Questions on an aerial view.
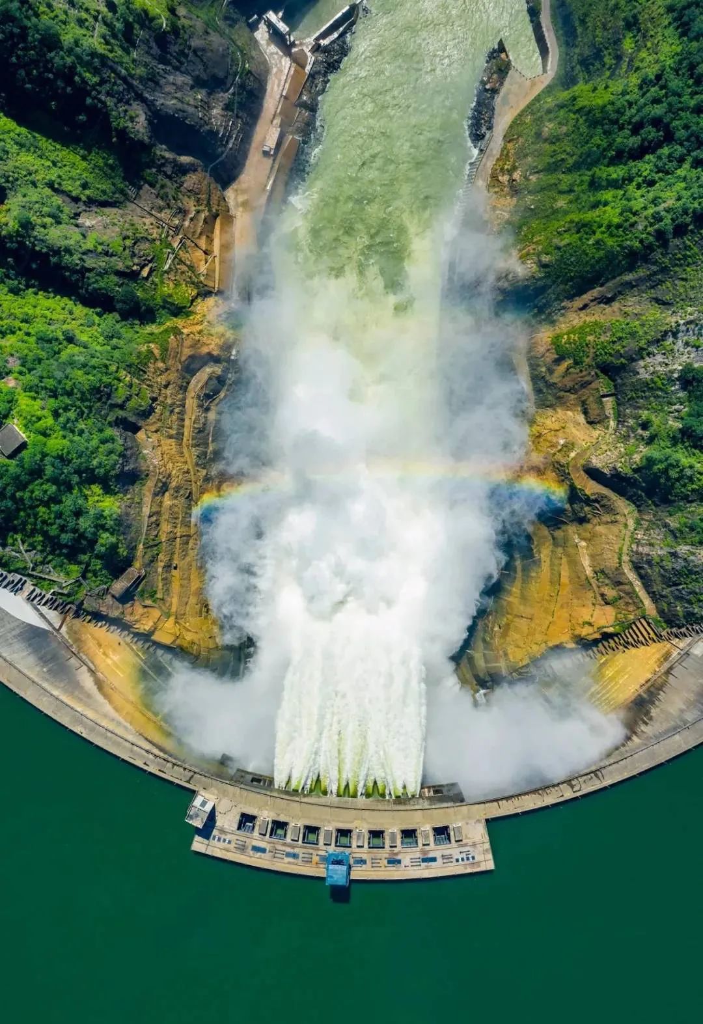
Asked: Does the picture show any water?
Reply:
Yes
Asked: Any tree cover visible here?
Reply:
Yes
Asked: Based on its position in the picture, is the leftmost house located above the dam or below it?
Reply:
above it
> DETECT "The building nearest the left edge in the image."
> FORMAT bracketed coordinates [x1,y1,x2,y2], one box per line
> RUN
[0,423,35,458]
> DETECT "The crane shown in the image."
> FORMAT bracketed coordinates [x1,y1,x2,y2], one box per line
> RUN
[327,850,350,889]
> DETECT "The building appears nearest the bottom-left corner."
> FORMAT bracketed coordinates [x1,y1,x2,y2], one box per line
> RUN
[185,786,219,829]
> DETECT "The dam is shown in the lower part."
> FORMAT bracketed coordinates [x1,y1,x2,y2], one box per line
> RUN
[0,584,703,881]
